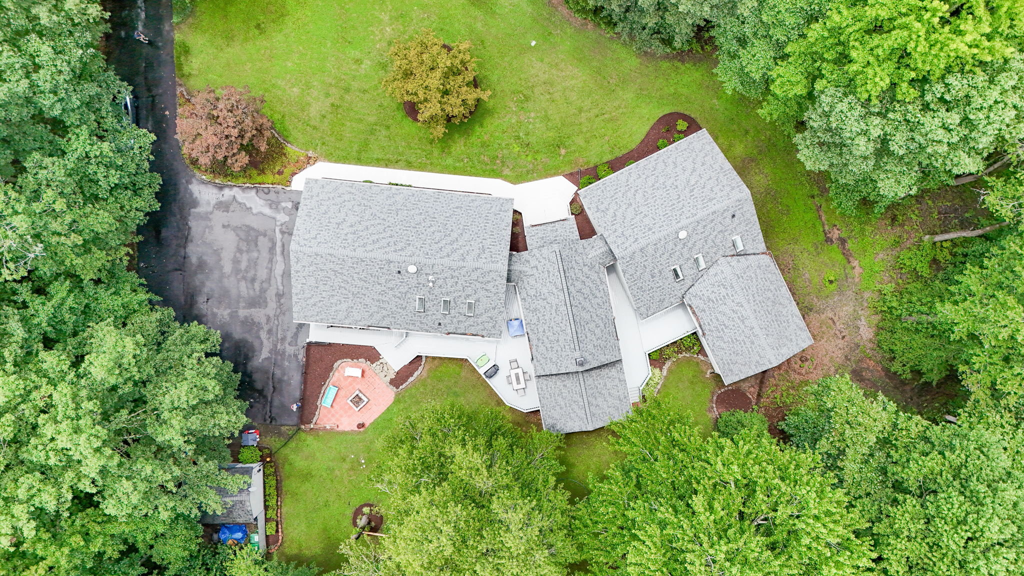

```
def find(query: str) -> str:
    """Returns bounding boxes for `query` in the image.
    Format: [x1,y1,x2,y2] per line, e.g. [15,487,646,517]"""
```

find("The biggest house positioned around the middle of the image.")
[291,127,815,431]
